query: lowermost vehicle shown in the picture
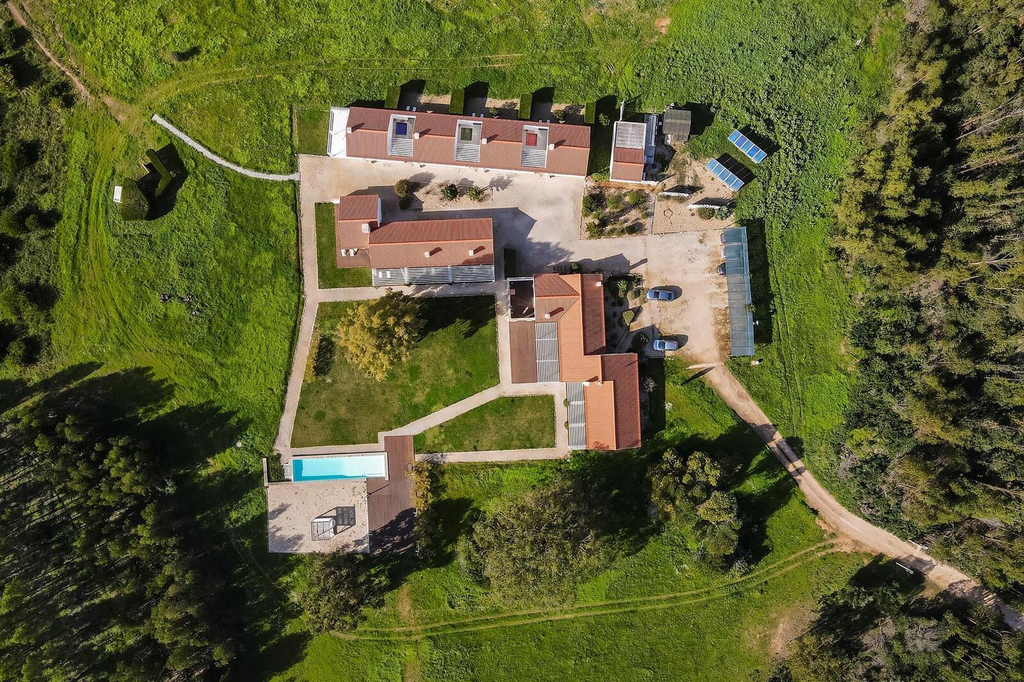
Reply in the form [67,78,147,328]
[655,339,679,351]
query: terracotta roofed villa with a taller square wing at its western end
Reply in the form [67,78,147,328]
[338,194,494,270]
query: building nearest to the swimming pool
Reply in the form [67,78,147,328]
[267,481,370,554]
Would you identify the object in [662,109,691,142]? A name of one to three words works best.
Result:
shed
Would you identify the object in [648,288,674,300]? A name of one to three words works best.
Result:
vehicle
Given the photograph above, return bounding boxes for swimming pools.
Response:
[290,452,390,483]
